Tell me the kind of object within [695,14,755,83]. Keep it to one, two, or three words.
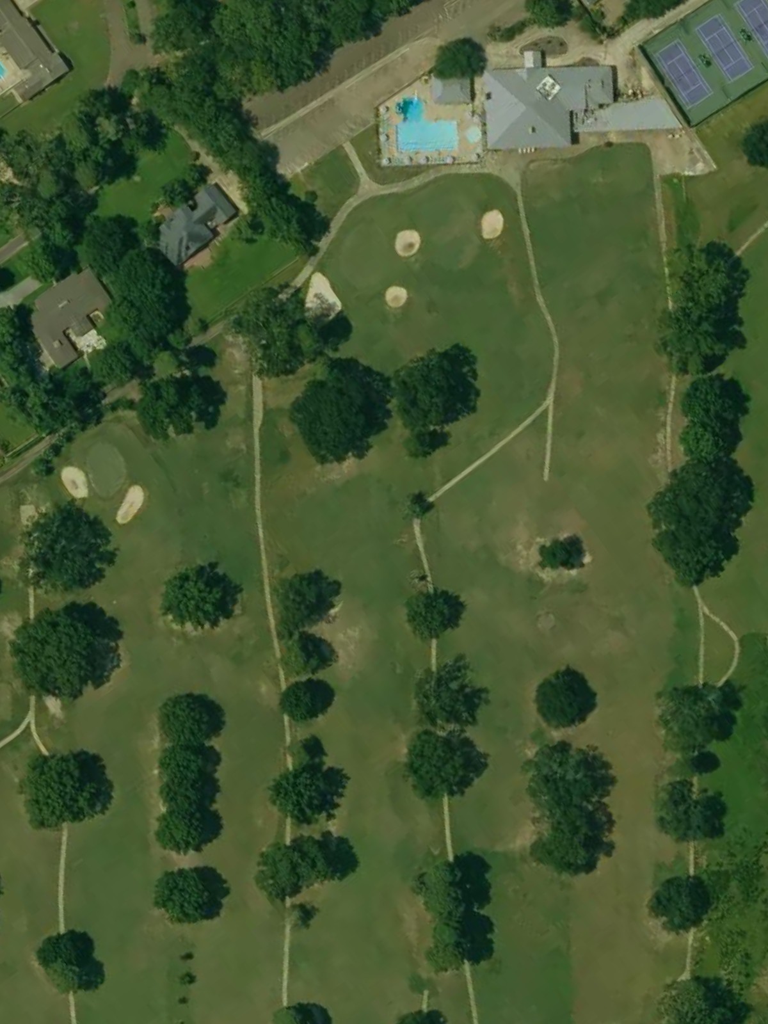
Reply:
tennis court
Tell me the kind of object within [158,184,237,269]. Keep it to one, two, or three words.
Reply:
house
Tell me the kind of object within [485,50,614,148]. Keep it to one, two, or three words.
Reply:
building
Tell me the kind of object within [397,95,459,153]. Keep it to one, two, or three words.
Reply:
swimming pool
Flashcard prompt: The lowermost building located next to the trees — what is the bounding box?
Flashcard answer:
[33,265,111,370]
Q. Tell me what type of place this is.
golf course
